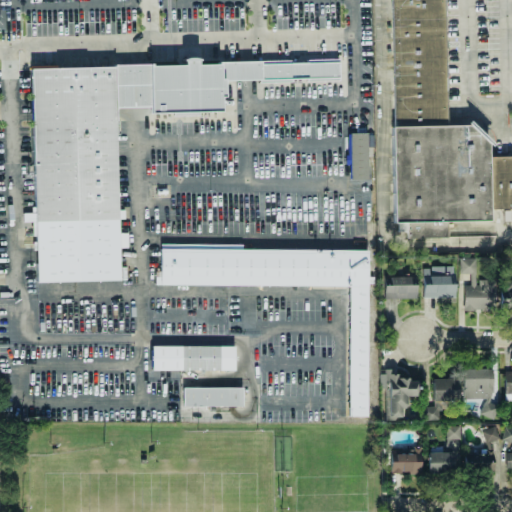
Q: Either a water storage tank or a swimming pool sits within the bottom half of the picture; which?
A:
swimming pool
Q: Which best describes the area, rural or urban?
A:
urban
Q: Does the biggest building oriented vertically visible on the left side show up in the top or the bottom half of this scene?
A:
top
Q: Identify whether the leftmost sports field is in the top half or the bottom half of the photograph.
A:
bottom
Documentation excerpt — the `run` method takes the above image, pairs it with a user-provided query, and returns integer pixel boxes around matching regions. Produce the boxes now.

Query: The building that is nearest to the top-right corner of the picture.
[394,0,450,126]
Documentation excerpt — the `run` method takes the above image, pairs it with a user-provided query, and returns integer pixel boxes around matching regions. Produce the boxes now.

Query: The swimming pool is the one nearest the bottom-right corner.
[462,425,483,448]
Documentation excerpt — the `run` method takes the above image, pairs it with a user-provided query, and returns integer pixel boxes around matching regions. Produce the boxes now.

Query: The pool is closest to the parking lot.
[390,430,419,446]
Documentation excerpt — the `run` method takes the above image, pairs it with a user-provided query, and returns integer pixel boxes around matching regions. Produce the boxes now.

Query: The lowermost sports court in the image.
[276,436,293,471]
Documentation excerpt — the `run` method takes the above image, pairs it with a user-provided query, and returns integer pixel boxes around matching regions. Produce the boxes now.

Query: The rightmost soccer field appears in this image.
[275,421,371,512]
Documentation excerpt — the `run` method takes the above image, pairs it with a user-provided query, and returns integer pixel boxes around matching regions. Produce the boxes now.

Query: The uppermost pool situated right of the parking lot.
[465,400,482,416]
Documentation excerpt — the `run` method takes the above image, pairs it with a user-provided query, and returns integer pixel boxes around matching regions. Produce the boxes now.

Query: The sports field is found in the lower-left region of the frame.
[0,419,274,512]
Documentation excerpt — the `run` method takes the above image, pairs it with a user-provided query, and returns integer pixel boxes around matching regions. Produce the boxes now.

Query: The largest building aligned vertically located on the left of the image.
[32,65,123,283]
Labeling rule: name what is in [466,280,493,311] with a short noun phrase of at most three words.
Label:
house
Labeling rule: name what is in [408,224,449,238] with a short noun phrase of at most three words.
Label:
building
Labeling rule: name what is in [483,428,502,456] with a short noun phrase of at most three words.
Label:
house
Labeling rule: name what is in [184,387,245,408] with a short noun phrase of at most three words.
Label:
shed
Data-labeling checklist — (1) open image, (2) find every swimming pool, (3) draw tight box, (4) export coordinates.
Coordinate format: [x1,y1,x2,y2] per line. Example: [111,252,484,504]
[462,425,483,448]
[390,430,419,446]
[465,400,482,416]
